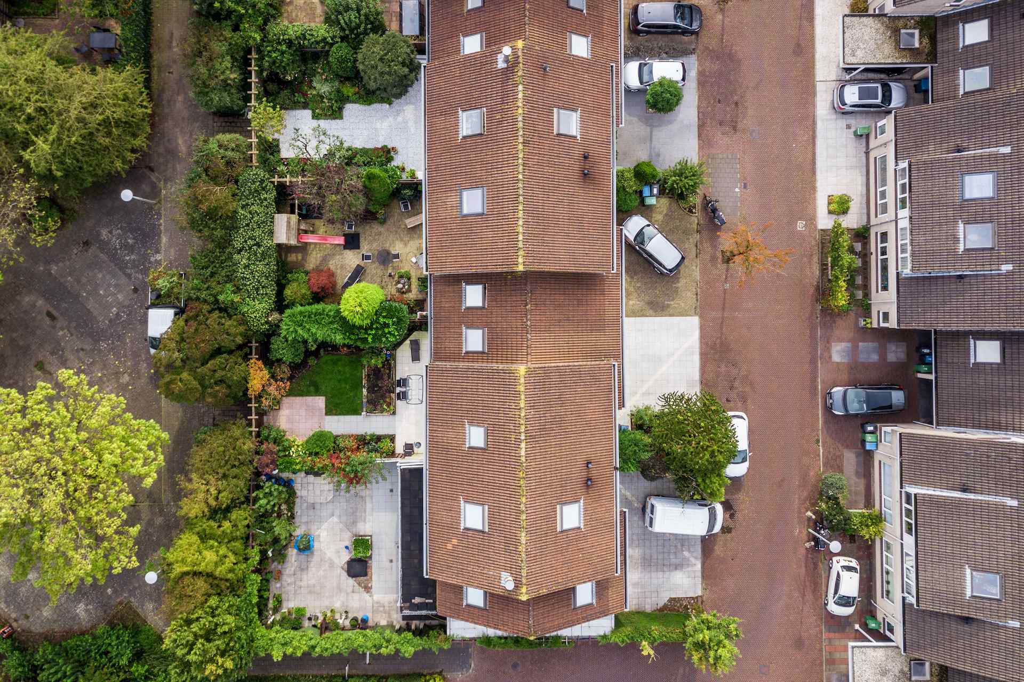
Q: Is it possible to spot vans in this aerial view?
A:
Yes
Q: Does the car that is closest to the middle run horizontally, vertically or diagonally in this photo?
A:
diagonally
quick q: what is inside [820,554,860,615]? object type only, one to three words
car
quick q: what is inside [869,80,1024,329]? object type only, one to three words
house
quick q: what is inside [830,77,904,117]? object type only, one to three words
car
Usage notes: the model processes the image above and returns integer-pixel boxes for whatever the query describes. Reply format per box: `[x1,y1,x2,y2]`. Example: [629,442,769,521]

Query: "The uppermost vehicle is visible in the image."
[628,0,701,40]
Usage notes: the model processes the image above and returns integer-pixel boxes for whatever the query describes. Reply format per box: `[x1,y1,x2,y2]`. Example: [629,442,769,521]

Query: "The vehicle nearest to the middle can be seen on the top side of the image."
[622,214,688,280]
